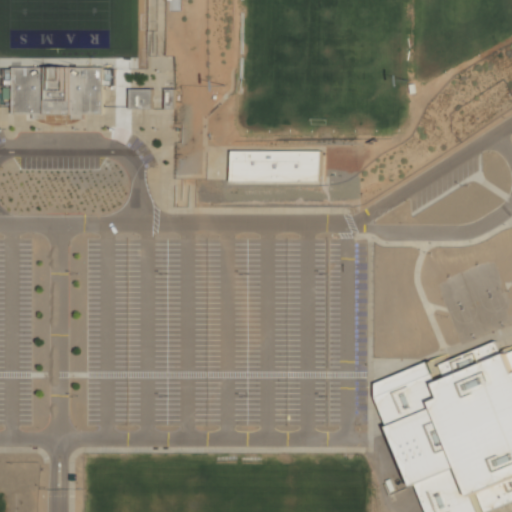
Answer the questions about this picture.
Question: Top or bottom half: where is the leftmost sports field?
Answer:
top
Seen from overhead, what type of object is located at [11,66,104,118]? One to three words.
building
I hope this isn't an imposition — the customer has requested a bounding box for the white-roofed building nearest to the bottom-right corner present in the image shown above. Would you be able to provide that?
[372,341,512,512]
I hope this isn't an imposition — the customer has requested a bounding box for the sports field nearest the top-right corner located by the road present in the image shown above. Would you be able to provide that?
[413,0,512,92]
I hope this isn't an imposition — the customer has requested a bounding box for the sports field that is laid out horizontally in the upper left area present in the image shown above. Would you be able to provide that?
[0,0,138,58]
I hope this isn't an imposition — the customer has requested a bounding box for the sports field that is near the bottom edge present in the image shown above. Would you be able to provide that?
[78,450,384,512]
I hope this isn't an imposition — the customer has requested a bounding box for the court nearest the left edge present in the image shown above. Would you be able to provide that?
[443,276,486,344]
